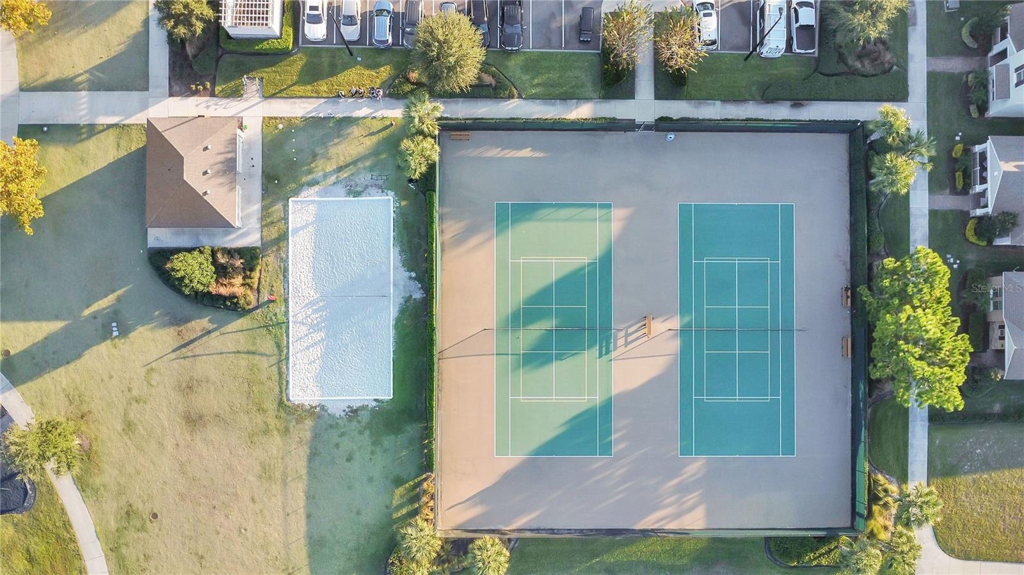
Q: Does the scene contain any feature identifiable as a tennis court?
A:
Yes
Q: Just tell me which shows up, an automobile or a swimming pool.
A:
automobile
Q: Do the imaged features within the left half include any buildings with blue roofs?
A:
No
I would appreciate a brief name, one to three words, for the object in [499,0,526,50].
truck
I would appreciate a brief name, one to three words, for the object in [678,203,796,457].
tennis court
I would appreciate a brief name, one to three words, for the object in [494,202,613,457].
tennis court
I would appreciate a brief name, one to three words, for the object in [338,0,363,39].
car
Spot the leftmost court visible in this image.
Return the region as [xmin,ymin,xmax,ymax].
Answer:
[288,196,394,402]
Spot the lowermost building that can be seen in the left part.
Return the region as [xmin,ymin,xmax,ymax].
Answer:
[145,115,248,229]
